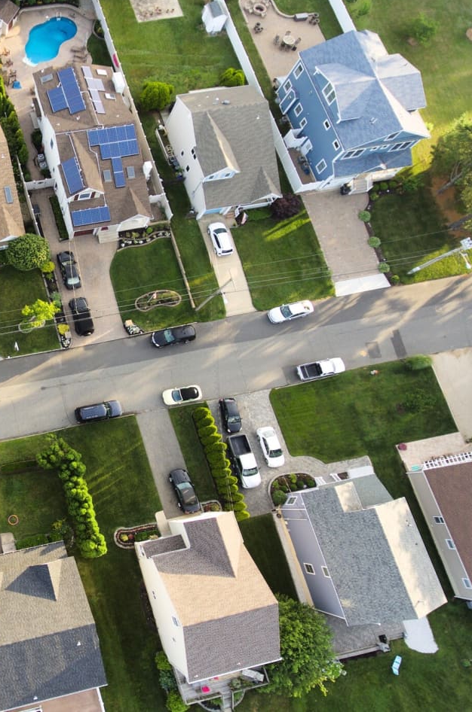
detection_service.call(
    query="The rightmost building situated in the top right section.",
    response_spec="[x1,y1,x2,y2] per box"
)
[283,19,428,200]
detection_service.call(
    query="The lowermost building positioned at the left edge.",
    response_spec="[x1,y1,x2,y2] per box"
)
[0,541,105,712]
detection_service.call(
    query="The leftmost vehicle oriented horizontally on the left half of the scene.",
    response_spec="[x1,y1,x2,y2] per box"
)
[73,399,123,423]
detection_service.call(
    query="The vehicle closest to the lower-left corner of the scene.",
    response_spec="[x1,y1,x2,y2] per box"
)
[167,467,200,516]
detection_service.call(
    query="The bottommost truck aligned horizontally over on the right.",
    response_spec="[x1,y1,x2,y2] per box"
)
[293,355,346,383]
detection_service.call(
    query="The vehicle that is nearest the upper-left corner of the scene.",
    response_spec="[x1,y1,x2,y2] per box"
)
[56,251,80,291]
